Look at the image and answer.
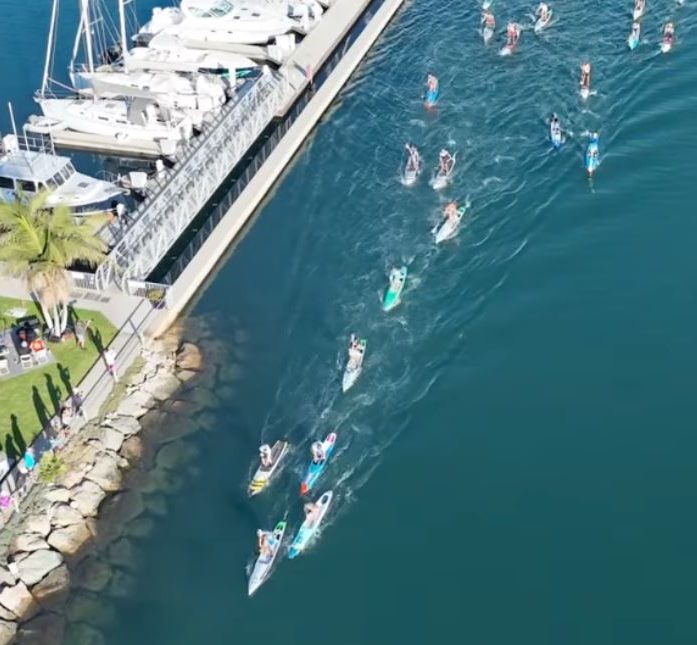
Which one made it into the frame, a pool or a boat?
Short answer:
boat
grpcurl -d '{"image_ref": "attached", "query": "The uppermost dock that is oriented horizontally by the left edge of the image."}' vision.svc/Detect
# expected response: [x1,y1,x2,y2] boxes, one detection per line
[23,132,193,163]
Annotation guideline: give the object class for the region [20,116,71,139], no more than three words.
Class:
boat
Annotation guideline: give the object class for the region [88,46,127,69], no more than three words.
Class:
boat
